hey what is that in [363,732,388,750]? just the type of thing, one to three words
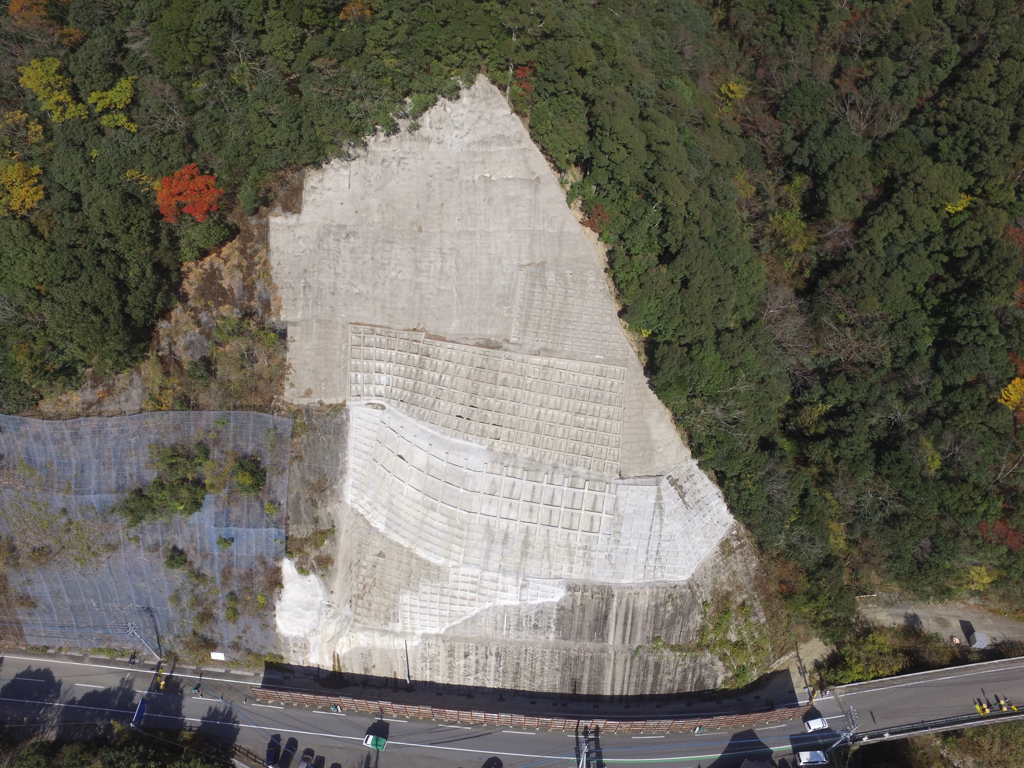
vehicle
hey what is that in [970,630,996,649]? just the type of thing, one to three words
shed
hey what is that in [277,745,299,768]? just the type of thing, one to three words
car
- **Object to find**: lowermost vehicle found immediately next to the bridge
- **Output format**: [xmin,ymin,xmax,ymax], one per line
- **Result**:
[794,750,828,767]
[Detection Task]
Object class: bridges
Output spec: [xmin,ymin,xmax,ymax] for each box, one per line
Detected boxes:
[825,653,1024,749]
